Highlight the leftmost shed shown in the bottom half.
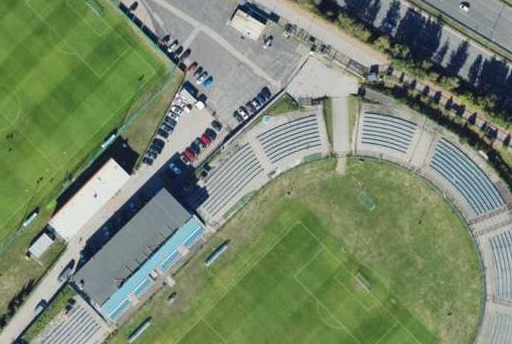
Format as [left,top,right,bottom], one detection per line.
[28,234,54,258]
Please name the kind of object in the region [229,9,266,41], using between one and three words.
building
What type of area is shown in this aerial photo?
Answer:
sports ground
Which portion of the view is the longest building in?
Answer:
left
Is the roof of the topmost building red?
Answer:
No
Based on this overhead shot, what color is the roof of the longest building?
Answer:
white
